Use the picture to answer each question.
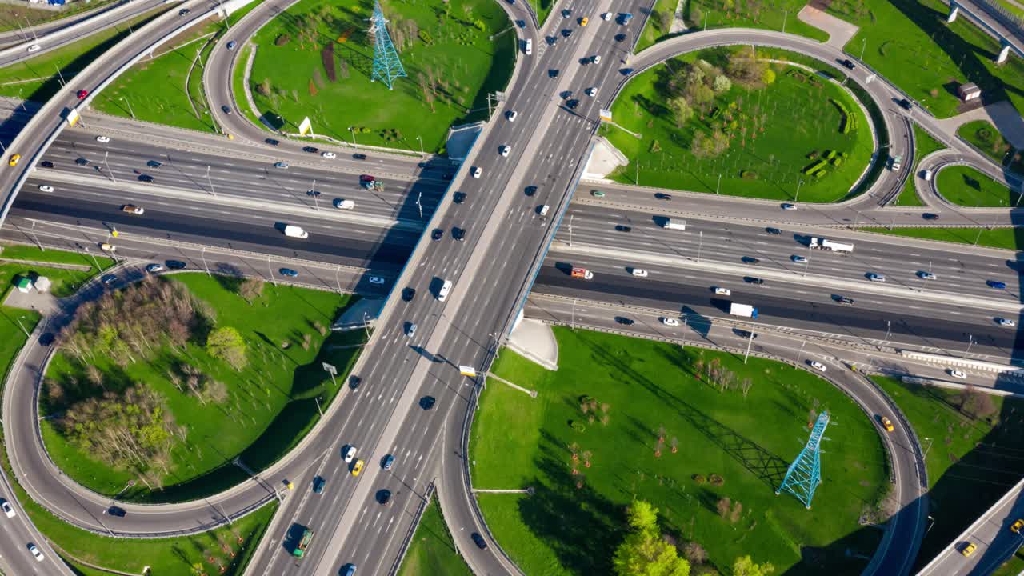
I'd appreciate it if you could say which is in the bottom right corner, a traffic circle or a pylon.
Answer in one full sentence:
There is a pylon in the bottom right corner.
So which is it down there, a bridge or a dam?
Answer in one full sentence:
There is a bridge in the scene.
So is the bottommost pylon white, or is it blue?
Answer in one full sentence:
The bottommost pylon is blue.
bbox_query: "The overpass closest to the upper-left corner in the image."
[0,0,251,227]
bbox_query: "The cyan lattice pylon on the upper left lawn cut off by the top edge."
[370,0,408,89]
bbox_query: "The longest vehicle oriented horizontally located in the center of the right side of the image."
[806,234,857,252]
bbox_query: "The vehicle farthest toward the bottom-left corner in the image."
[30,544,43,560]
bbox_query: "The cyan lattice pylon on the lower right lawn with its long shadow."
[775,408,831,509]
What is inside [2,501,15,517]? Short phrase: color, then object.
white vehicle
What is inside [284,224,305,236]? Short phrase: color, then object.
white vehicle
